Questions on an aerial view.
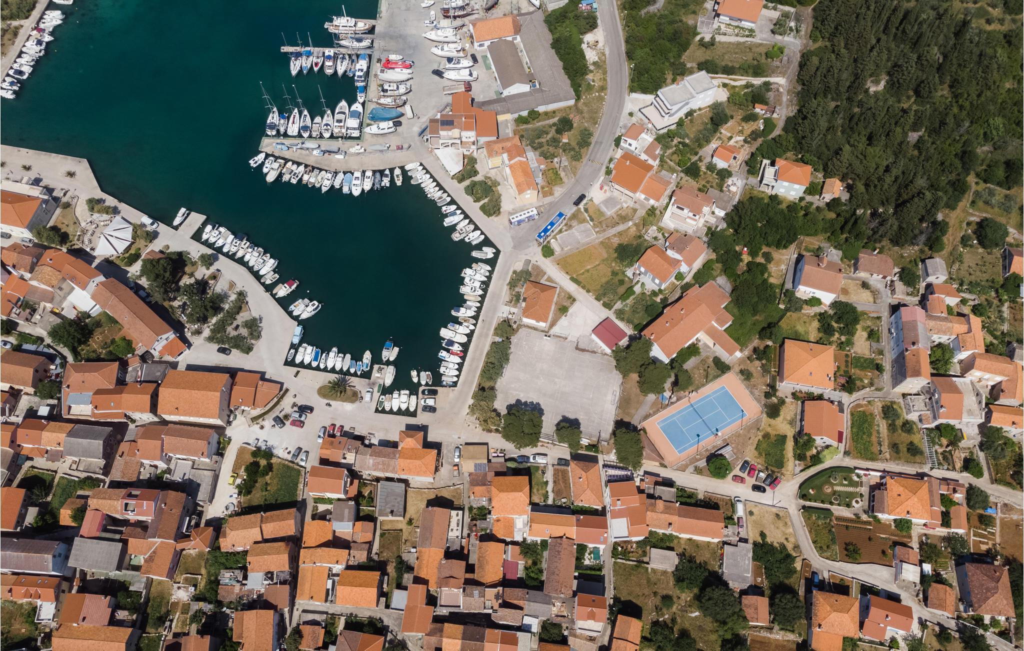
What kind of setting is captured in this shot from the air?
residential area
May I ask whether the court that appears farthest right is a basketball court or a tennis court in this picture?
tennis court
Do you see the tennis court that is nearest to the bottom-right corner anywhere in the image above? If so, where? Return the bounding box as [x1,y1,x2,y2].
[639,367,763,469]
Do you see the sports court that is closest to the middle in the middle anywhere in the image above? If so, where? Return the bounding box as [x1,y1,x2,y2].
[494,328,623,442]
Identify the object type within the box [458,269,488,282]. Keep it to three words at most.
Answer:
boat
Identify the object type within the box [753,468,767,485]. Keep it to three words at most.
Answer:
vehicle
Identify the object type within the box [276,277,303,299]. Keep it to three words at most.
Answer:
boat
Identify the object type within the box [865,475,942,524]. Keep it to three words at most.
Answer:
house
